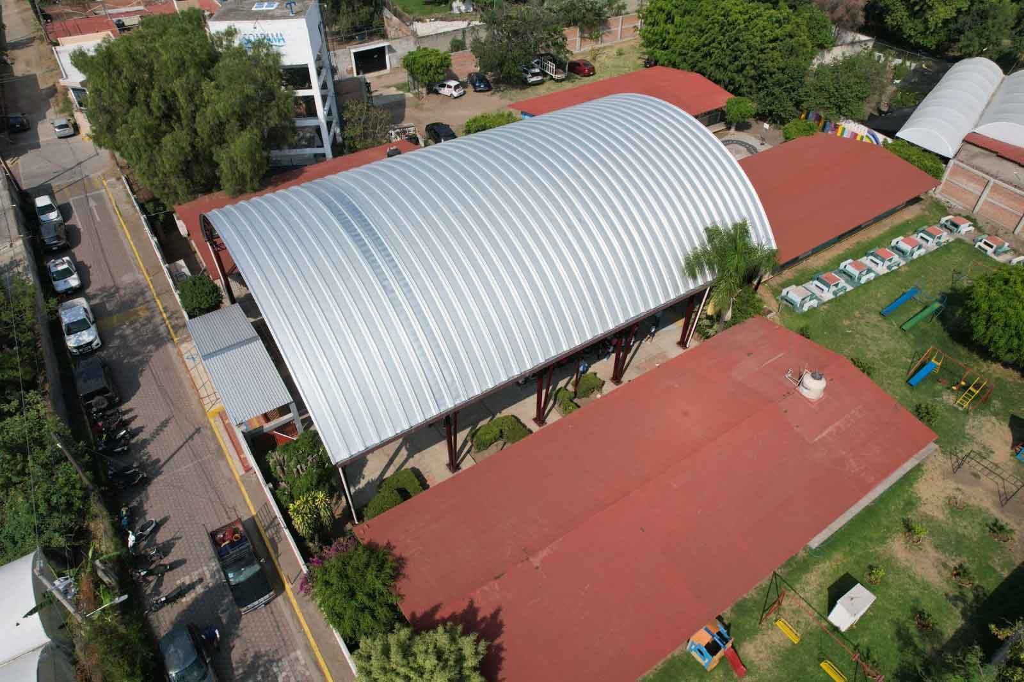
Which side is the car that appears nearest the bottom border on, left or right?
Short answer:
left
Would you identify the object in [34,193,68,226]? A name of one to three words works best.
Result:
van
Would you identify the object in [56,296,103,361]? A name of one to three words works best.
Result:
truck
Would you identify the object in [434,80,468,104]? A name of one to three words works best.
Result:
car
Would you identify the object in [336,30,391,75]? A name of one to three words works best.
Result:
building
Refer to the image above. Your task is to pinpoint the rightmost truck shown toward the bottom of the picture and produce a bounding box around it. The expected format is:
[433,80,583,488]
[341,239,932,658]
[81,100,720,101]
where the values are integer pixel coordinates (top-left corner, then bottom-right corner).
[198,493,278,622]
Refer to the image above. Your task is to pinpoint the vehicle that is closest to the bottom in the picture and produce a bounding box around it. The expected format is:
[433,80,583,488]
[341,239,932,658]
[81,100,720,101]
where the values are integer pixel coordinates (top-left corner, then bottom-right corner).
[160,615,228,682]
